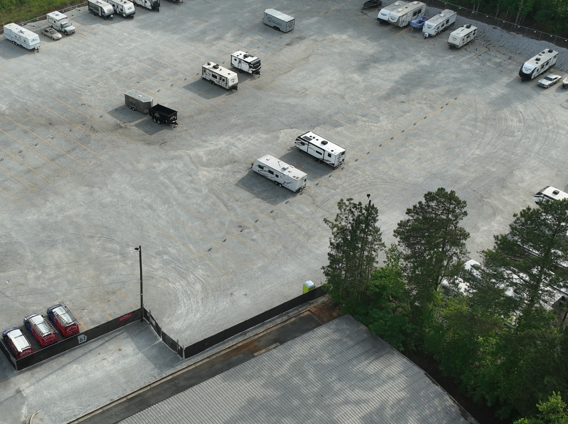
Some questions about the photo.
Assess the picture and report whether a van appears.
Yes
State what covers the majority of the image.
paved ground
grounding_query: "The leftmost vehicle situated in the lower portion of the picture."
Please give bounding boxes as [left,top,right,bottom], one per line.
[1,322,37,356]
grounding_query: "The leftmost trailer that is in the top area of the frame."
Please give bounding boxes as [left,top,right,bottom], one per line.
[5,23,44,54]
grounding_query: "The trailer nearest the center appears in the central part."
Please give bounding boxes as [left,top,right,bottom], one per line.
[255,156,308,194]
